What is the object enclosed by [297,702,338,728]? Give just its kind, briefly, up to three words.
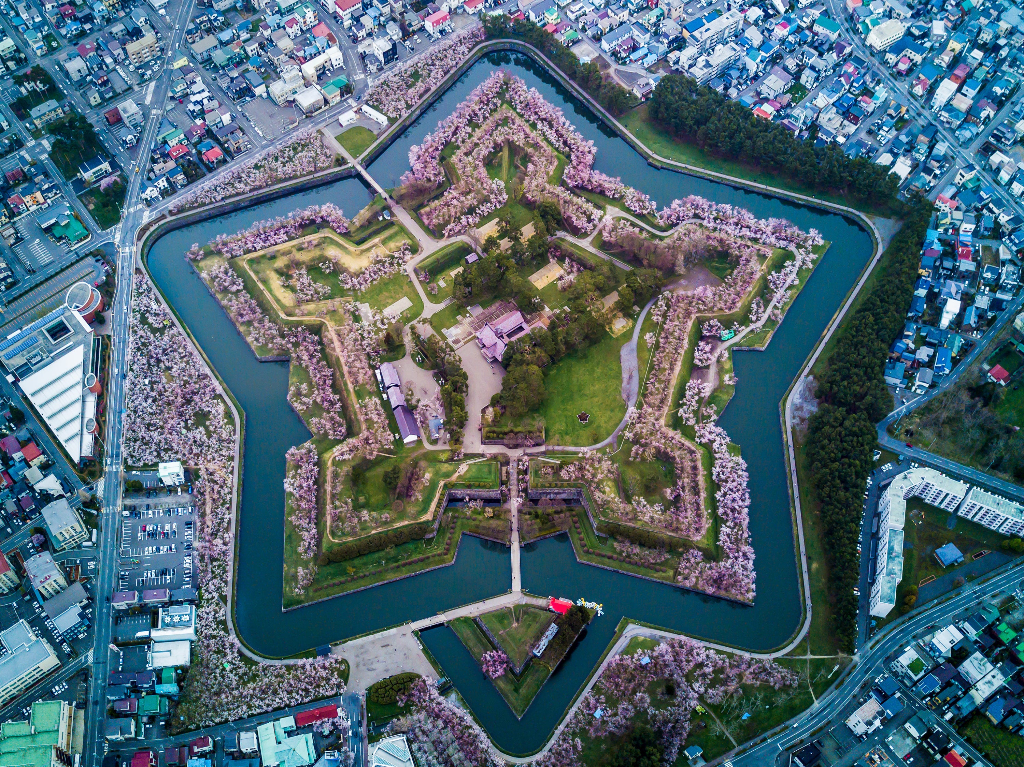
house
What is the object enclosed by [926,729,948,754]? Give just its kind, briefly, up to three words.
house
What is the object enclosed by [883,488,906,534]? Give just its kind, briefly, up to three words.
building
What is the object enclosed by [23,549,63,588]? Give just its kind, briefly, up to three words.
building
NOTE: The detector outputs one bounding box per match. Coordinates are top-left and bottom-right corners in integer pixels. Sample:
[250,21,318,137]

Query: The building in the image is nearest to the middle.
[470,307,543,371]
